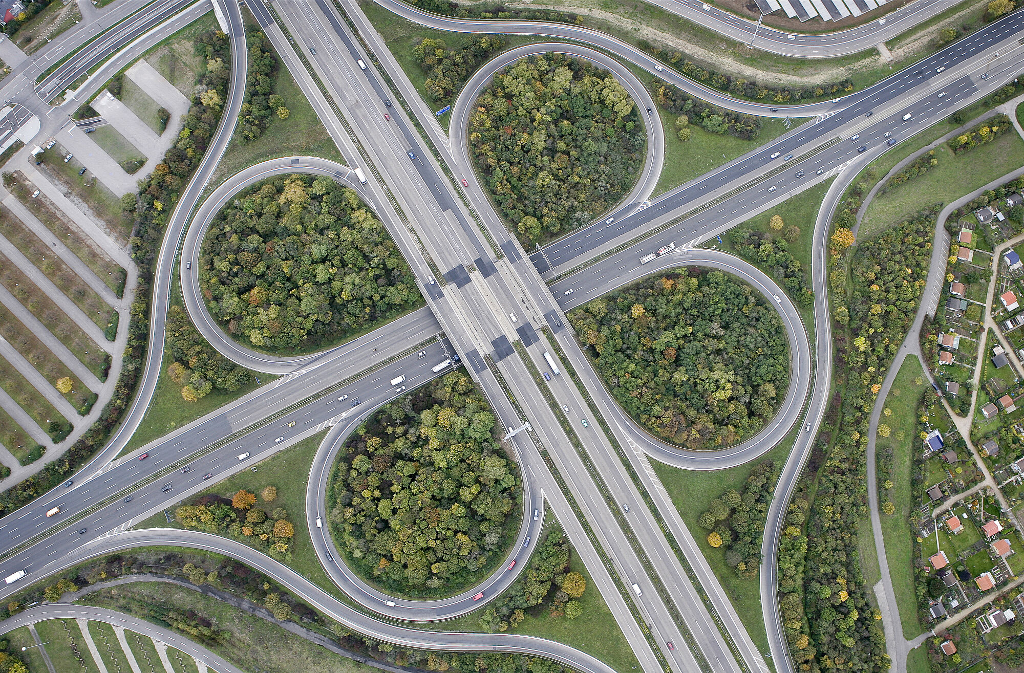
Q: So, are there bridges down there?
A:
Yes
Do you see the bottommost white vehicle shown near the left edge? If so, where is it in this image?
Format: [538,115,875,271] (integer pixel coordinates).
[4,569,29,584]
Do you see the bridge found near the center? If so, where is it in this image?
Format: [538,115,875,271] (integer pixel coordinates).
[415,229,579,389]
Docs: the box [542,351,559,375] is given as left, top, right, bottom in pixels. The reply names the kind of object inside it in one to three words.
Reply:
vehicle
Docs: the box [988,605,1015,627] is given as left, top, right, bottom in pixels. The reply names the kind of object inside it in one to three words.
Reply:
house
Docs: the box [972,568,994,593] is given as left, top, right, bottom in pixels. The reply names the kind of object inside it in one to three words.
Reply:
house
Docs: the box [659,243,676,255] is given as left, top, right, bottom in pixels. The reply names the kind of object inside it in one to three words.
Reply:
vehicle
